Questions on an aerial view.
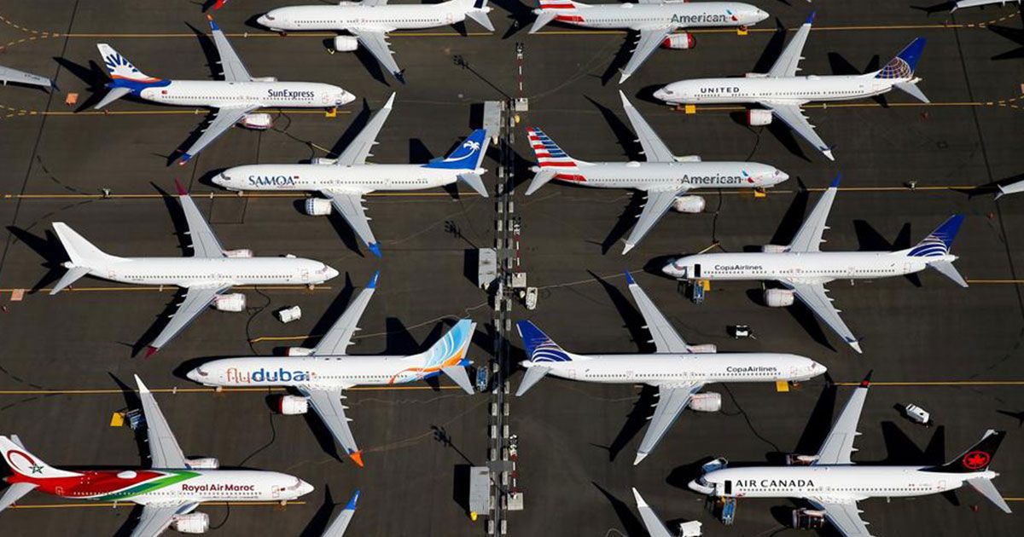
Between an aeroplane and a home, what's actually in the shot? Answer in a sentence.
This aerial view contains an aeroplane.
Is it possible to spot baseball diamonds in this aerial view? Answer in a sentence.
No, there appears to be no baseball diamond in this shot.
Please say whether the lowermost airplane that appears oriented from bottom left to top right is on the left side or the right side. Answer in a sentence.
The lowermost airplane that appears oriented from bottom left to top right appears in the left half of the scene.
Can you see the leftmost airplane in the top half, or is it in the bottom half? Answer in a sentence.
Seen from above, the leftmost airplane lies in the top half of the view.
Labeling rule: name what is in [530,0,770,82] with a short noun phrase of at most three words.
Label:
airplane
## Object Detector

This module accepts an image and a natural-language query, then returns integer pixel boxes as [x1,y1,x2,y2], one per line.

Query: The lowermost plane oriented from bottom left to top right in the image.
[324,490,361,537]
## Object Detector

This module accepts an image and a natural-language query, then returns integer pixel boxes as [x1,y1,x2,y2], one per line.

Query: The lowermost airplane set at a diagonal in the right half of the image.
[632,487,670,537]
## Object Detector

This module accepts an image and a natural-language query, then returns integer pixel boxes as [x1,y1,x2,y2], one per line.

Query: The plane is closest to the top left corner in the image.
[0,50,57,91]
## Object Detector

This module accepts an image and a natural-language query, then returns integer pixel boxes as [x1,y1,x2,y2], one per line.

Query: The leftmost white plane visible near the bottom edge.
[0,375,313,537]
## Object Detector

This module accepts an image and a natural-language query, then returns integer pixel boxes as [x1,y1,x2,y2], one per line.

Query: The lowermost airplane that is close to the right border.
[688,369,1010,537]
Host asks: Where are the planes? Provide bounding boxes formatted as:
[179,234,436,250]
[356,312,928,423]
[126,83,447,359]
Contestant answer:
[632,487,670,537]
[662,172,969,353]
[95,15,354,165]
[515,267,827,466]
[51,178,338,359]
[525,90,790,255]
[257,0,494,82]
[212,92,492,257]
[688,369,1010,537]
[950,0,1002,13]
[187,269,477,467]
[653,9,931,160]
[324,490,361,537]
[0,50,57,91]
[0,375,313,537]
[530,0,770,82]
